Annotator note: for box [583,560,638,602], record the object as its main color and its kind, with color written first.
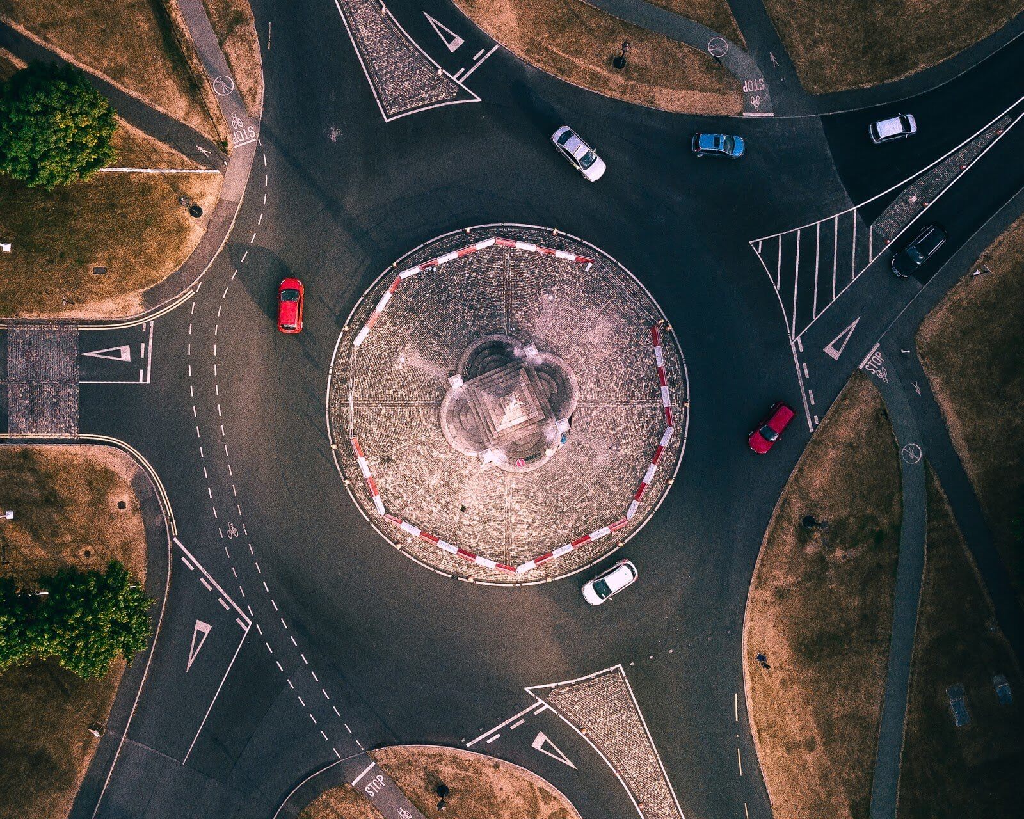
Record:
white car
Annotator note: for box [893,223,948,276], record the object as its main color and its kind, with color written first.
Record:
black car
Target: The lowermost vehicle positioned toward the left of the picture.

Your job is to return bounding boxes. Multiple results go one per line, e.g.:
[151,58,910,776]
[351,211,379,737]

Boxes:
[276,278,305,334]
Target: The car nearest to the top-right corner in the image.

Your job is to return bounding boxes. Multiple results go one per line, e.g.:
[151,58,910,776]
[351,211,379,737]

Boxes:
[868,113,915,144]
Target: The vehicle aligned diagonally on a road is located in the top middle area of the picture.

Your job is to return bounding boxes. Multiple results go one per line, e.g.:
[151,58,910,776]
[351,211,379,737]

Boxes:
[553,126,603,181]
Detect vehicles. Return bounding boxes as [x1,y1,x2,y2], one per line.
[553,126,603,181]
[692,131,745,160]
[893,223,948,276]
[276,278,305,334]
[868,113,915,144]
[583,560,638,602]
[750,401,795,454]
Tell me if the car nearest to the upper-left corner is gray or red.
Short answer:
red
